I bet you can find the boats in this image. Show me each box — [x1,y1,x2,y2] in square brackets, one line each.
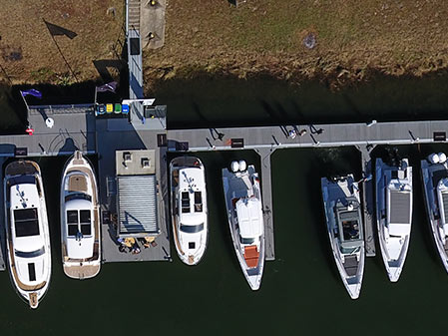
[375,148,411,281]
[169,153,210,265]
[59,151,101,279]
[1,155,52,309]
[223,148,267,289]
[321,146,366,298]
[421,152,448,275]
